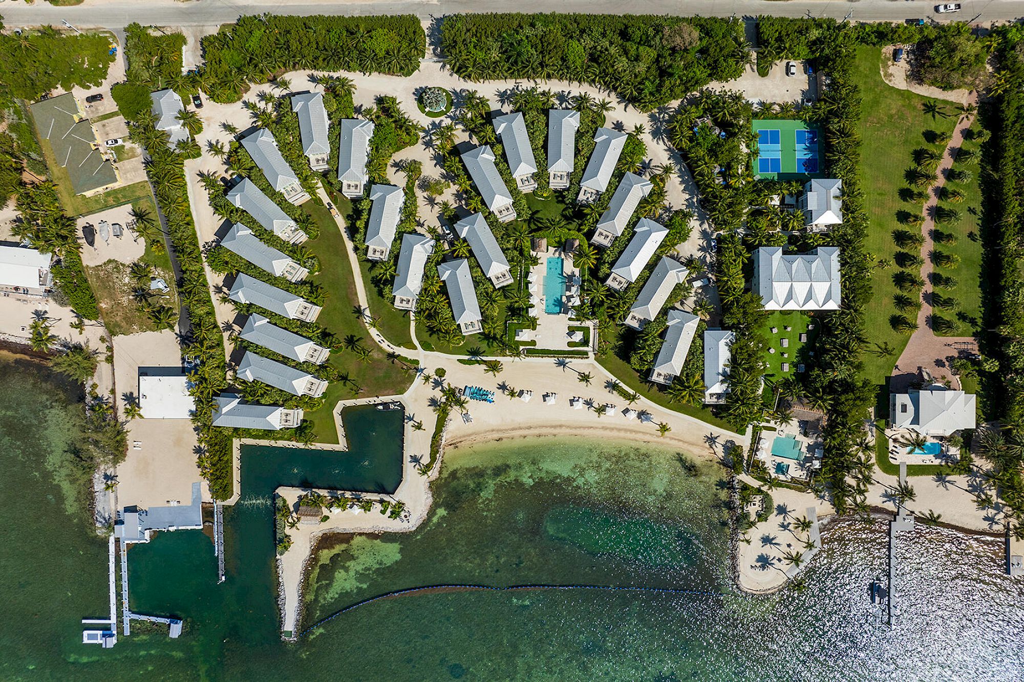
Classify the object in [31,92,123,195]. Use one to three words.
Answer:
building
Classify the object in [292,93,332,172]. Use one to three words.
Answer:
house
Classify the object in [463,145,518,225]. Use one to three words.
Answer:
house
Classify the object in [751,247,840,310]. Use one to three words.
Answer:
building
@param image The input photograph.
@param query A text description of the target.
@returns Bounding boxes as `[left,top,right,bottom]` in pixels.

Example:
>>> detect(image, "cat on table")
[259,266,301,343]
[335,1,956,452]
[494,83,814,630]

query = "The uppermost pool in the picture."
[521,248,597,353]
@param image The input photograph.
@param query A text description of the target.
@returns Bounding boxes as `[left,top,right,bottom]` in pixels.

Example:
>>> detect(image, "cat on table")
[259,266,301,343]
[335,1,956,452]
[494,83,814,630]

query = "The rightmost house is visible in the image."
[886,372,976,436]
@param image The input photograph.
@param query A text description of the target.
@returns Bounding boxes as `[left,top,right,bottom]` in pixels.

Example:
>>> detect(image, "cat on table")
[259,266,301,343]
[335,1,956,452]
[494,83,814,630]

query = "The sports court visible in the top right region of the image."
[753,117,828,180]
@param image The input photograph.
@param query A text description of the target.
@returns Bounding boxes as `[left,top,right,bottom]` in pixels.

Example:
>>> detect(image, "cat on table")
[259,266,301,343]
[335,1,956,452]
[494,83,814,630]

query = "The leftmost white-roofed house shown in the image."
[0,246,58,297]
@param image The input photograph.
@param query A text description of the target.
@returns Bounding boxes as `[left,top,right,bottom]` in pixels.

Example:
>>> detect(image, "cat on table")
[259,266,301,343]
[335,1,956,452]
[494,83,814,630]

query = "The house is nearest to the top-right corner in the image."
[797,179,842,233]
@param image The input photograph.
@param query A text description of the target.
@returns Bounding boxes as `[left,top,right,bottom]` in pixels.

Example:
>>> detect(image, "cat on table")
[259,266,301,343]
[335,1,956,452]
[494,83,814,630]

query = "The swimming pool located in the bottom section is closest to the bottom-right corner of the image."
[888,428,959,464]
